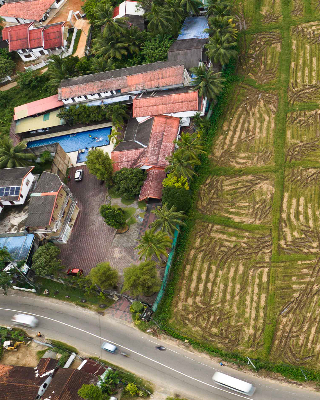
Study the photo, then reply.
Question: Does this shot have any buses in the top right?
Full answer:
No, no bus appears in the top right.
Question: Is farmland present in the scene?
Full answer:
Yes, the picture does contain farmland.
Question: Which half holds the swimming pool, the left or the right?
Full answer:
You can find the swimming pool on the left side of the picture.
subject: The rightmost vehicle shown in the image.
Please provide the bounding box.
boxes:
[208,373,257,399]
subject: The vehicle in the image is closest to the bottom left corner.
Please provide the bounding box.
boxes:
[3,339,35,353]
